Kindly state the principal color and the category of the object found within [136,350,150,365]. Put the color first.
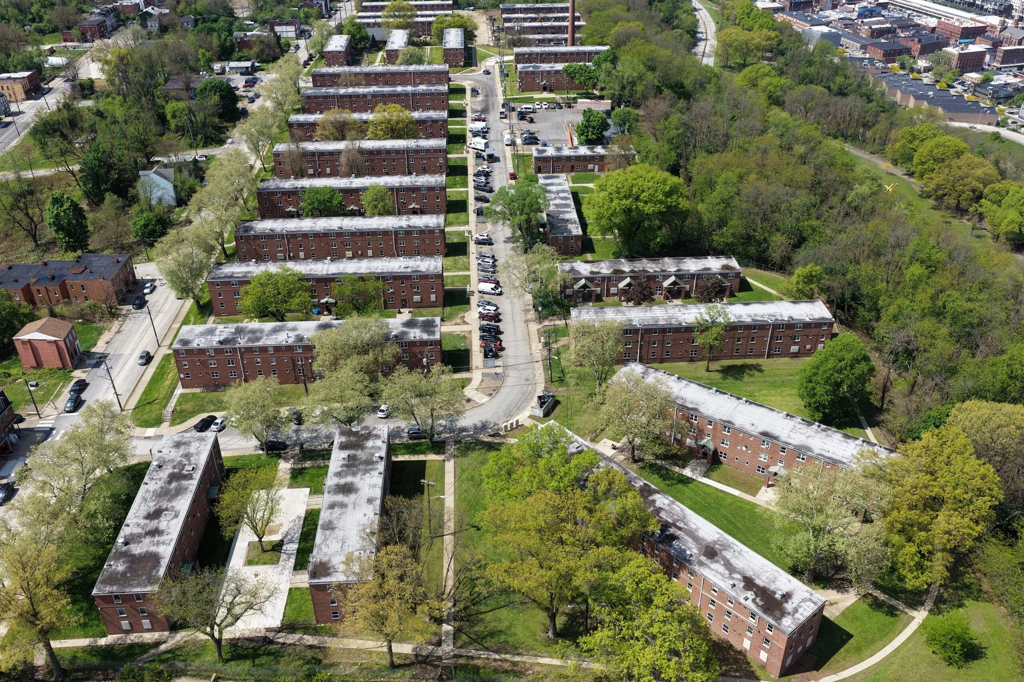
gray car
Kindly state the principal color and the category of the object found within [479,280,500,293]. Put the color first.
white vehicle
